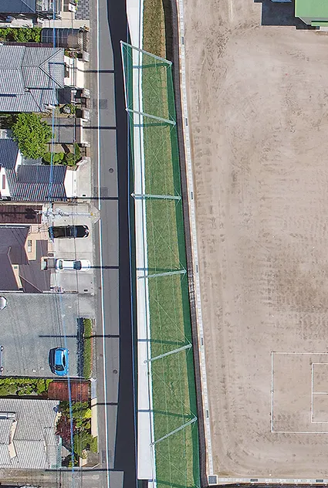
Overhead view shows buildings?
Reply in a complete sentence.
Yes, looking at the shot, I can spot a building.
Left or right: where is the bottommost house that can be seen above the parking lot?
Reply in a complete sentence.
The bottommost house that can be seen above the parking lot appears in the left half of the scene.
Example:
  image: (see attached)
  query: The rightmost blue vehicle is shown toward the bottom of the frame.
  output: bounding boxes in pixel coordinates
[49,348,66,376]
